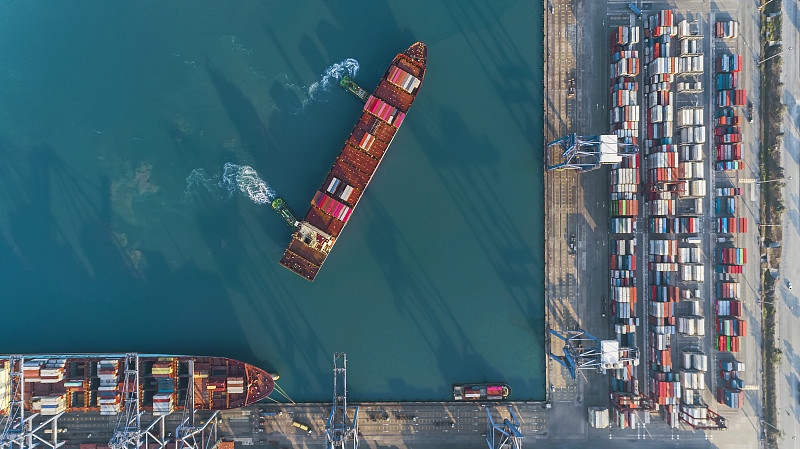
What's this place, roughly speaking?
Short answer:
port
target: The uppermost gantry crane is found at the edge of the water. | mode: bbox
[547,132,640,174]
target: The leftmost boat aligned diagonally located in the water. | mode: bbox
[270,198,299,230]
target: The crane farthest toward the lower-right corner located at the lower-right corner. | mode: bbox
[677,406,727,431]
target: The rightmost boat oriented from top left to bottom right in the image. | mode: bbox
[338,76,370,104]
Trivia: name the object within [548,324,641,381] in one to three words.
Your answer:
container crane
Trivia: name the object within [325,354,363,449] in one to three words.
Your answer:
container crane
